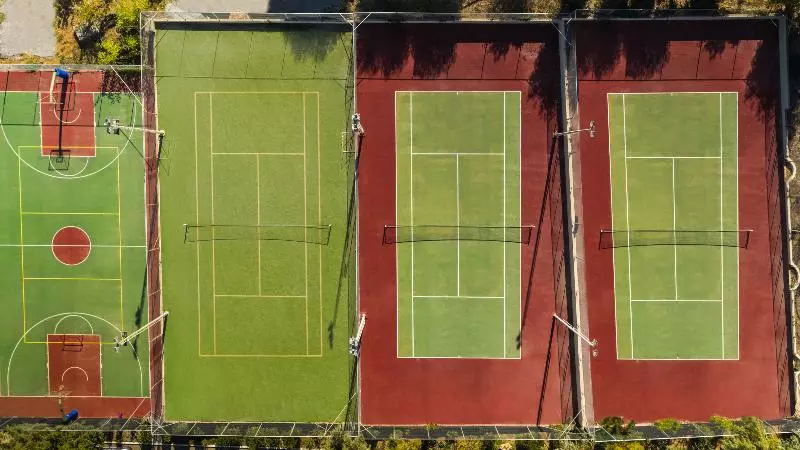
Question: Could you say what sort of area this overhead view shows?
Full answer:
What you see here is a sports ground.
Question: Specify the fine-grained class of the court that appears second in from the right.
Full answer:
It turns out the court that appears second in from the right is a tennis court.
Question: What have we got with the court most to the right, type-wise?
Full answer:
The court most to the right appears to be a tennis court.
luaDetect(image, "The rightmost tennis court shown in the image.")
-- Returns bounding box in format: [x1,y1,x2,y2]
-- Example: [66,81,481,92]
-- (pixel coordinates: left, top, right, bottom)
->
[564,18,797,427]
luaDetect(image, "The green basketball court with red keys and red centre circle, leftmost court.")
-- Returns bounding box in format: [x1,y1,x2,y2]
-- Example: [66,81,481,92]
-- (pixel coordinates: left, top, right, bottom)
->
[0,69,162,425]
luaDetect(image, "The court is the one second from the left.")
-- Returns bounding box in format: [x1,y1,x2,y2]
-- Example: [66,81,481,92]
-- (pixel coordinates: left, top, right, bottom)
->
[156,24,360,423]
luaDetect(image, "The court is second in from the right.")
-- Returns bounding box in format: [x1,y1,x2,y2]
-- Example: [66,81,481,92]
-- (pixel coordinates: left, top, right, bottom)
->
[357,22,580,425]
